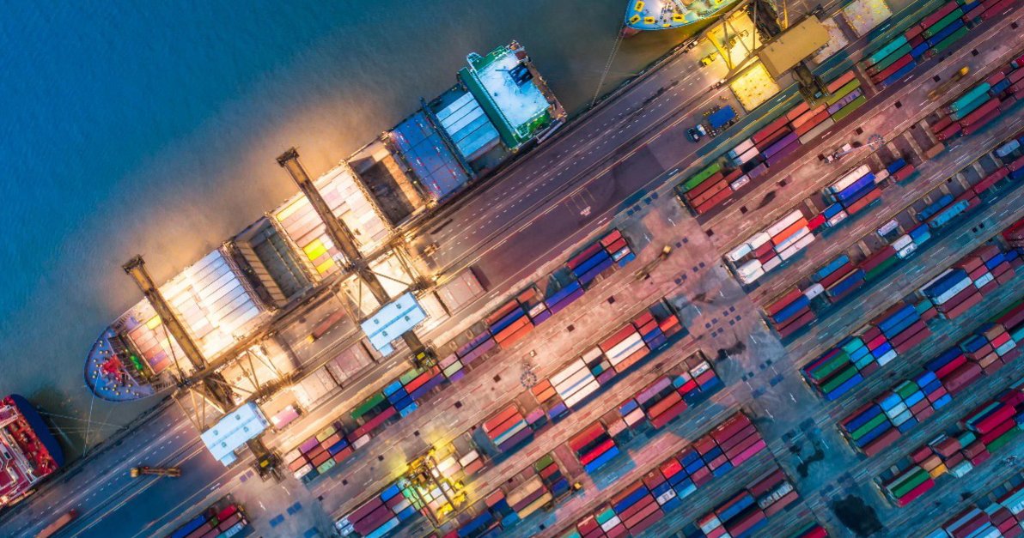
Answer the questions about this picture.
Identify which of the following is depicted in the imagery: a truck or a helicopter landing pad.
truck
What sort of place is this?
port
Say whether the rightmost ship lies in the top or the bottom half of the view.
top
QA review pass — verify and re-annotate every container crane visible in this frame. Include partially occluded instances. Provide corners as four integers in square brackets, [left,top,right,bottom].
[408,440,475,525]
[273,142,442,374]
[117,248,304,479]
[683,0,831,112]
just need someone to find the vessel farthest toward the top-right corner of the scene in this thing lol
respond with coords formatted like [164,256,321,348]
[615,0,736,67]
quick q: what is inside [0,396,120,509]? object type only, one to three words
ship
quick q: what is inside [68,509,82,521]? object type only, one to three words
vehicle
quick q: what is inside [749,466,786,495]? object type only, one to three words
shipping container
